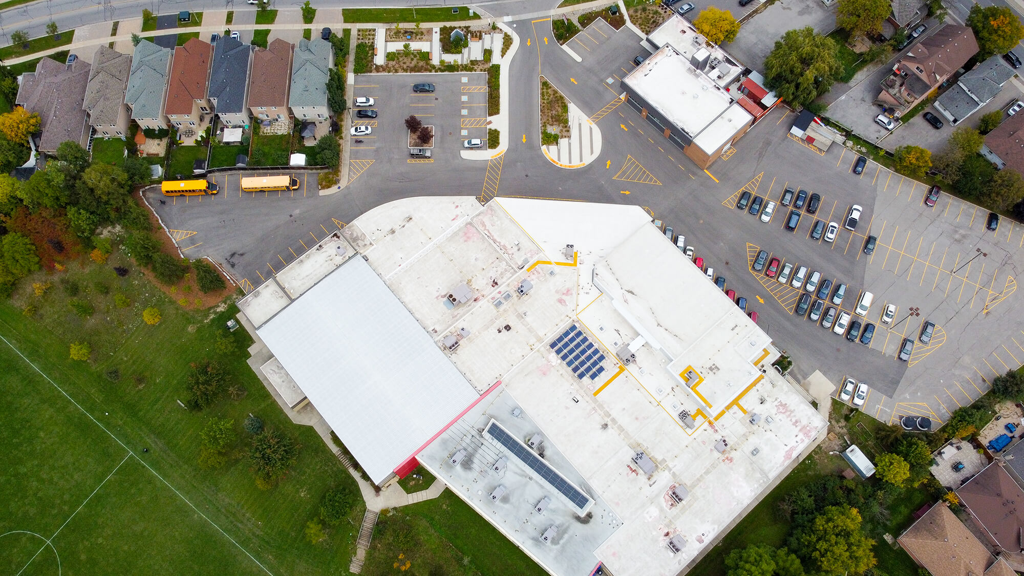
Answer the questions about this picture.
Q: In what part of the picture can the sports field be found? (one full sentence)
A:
The sports field is located in the bottom left region of the scene.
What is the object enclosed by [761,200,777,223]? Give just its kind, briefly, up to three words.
car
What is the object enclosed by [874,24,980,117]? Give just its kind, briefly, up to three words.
house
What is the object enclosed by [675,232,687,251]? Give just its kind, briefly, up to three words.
vehicle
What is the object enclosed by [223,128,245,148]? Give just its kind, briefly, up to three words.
gazebo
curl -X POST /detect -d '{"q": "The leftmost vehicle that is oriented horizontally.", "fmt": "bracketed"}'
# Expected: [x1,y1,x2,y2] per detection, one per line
[159,179,222,198]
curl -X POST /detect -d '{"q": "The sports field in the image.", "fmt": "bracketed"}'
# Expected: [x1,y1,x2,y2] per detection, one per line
[0,320,299,576]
